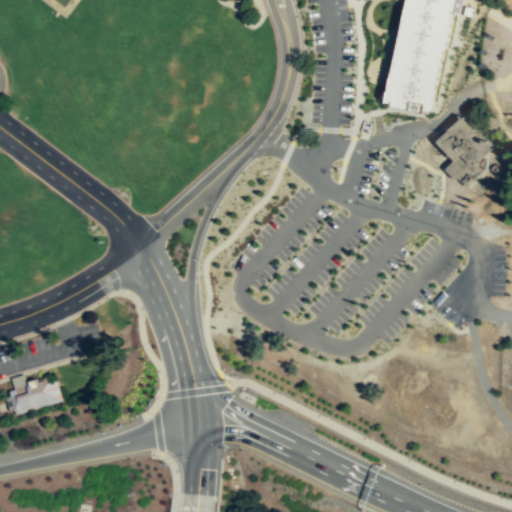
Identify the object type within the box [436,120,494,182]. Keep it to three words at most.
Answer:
building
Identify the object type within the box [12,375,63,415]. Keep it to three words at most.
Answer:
house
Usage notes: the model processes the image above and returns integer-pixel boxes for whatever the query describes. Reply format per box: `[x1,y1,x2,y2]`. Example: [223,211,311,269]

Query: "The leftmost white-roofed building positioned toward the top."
[384,0,460,114]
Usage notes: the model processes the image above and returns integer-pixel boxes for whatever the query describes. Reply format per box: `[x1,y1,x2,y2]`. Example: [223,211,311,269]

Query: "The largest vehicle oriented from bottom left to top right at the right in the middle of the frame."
[434,290,448,306]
